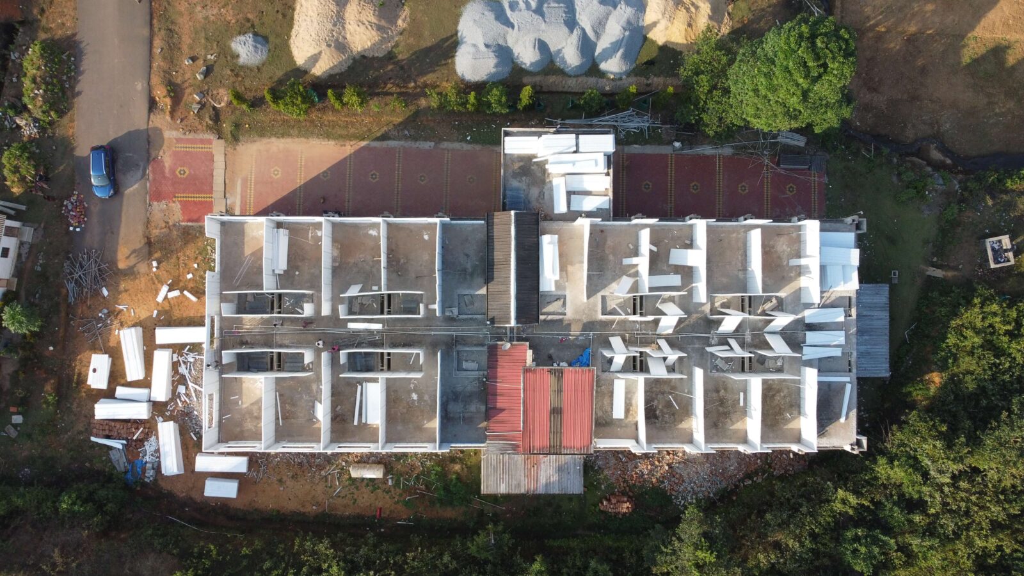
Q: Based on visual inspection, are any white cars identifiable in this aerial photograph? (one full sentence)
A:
No, this view has no white car in it.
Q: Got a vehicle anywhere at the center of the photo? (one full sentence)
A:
No, I see no vehicle at the center of the photo.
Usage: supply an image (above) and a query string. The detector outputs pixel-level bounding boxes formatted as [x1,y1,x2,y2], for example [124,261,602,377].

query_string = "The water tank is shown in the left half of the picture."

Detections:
[351,463,384,479]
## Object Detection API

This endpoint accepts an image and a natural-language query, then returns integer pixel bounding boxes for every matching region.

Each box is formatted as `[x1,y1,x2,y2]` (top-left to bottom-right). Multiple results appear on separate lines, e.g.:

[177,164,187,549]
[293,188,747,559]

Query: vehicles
[89,146,119,198]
